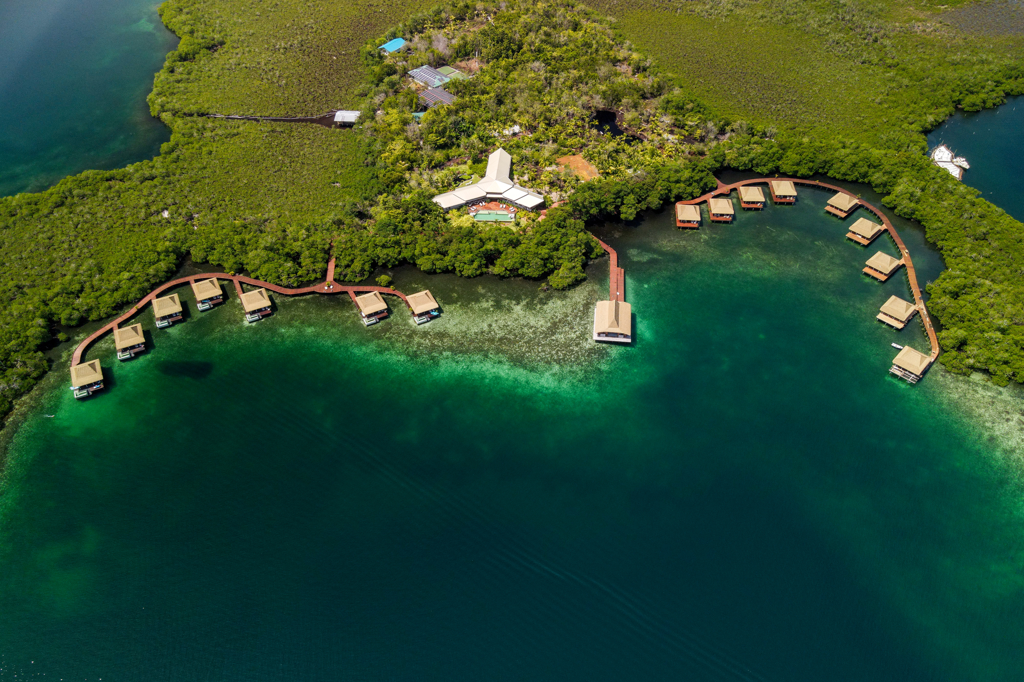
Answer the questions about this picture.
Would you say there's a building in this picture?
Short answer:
Yes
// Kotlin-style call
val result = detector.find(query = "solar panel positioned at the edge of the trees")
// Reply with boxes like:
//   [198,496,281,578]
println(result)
[409,65,449,86]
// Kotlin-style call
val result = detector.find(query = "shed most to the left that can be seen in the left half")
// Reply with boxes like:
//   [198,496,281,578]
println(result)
[71,359,108,396]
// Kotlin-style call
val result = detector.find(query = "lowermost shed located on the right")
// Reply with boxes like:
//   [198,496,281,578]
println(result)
[884,346,932,387]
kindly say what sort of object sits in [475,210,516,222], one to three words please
swimming pool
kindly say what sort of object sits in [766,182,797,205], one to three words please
shed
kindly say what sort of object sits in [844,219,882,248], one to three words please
shed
